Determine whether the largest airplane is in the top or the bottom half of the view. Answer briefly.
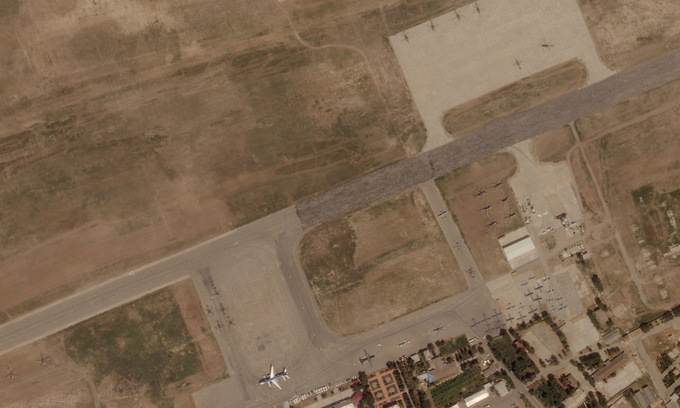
bottom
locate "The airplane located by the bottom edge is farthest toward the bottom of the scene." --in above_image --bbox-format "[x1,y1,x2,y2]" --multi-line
[260,367,289,391]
